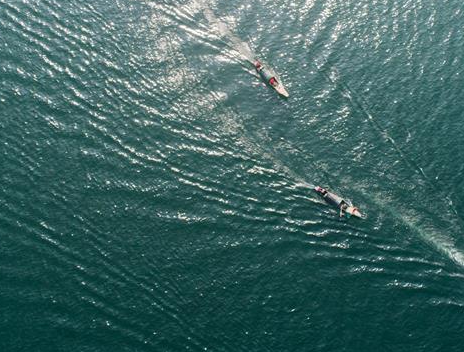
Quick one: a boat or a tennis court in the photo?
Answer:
boat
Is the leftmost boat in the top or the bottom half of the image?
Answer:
top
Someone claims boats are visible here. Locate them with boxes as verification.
[313,185,367,219]
[254,60,289,97]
